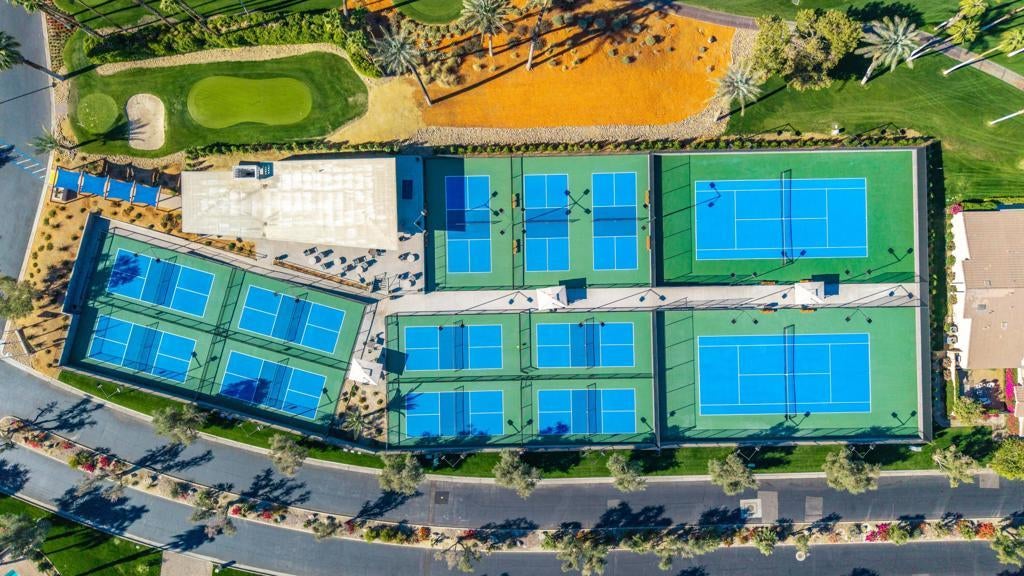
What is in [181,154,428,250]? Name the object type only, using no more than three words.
building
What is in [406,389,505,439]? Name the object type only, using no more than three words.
sports court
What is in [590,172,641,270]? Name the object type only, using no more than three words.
sports court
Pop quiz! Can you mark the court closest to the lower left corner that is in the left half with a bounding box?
[87,315,196,383]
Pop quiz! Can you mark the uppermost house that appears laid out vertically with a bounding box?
[950,209,1024,369]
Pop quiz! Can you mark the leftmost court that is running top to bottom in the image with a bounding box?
[444,176,493,273]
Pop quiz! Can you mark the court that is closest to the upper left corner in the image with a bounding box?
[105,248,214,317]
